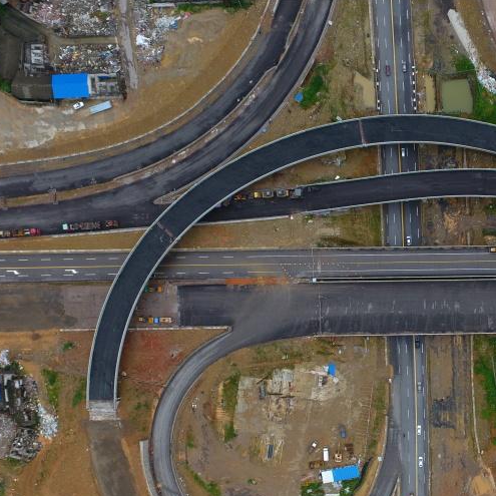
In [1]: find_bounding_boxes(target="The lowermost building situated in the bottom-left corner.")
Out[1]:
[7,428,41,460]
